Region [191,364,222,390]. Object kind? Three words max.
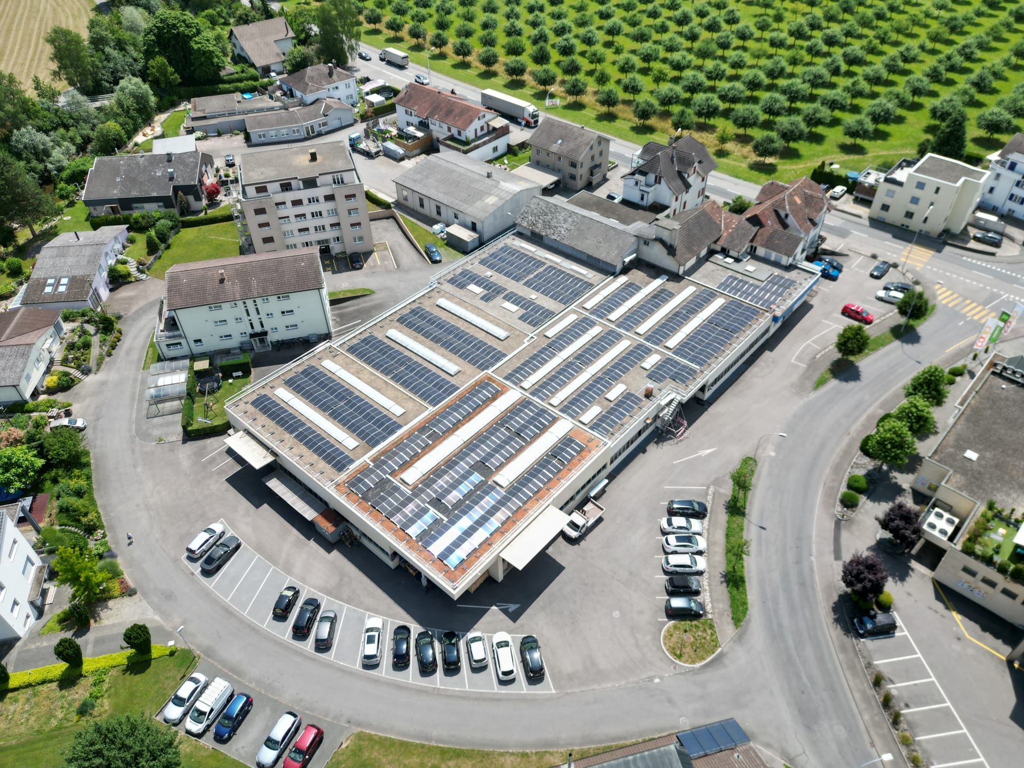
trampoline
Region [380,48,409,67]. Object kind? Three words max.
vehicle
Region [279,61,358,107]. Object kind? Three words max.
house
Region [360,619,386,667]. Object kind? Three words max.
car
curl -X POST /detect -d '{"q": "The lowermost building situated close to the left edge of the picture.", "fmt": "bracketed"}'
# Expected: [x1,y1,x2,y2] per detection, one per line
[0,523,66,641]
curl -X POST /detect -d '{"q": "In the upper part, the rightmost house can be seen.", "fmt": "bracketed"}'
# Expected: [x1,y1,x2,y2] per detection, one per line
[980,133,1024,220]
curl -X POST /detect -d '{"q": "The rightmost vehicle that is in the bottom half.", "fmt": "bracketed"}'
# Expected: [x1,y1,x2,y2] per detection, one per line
[850,611,903,637]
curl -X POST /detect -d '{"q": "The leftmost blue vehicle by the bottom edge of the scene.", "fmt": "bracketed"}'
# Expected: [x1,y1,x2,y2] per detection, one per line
[214,691,255,743]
